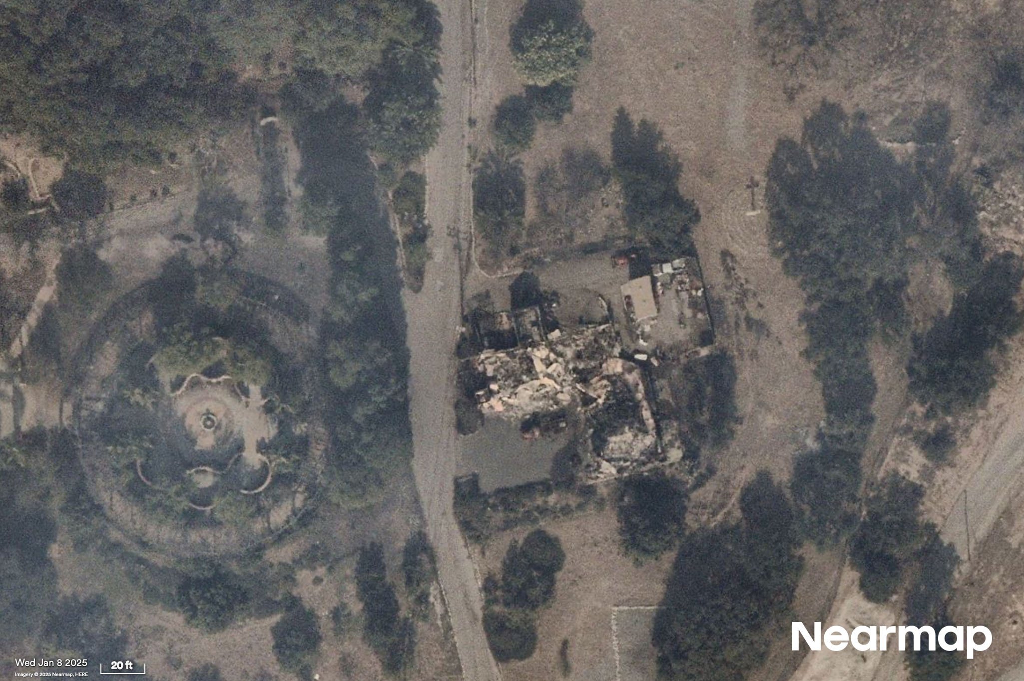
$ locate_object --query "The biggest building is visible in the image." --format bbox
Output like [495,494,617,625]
[621,275,658,321]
